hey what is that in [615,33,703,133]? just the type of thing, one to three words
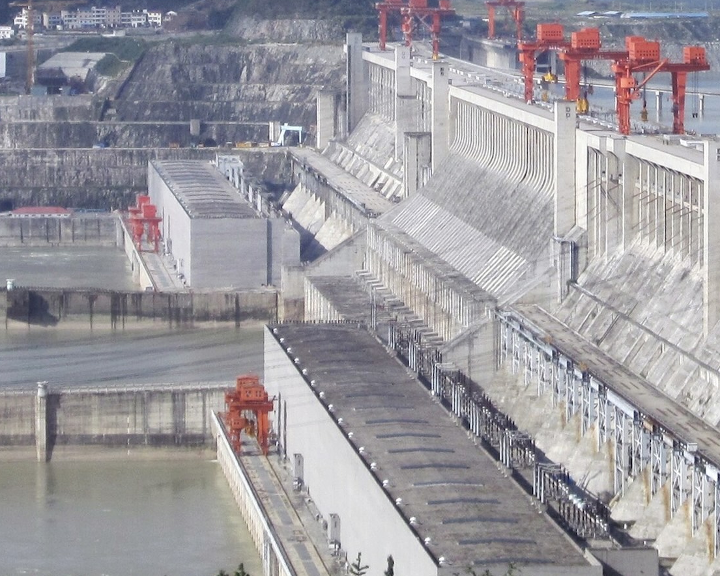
container crane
